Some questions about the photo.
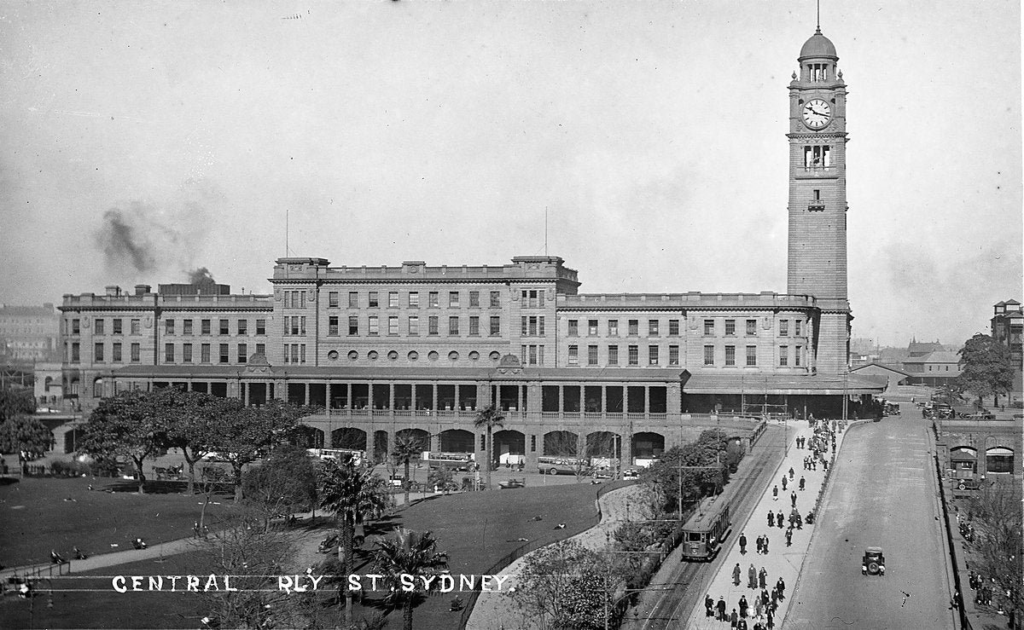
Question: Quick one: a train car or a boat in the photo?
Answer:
train car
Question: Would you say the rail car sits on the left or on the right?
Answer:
right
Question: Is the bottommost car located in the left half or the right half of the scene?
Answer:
right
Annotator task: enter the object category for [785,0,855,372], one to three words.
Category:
building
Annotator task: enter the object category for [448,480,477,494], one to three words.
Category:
car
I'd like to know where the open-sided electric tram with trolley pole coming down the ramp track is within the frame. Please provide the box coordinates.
[681,478,729,558]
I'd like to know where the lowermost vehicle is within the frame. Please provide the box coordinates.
[862,550,882,577]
